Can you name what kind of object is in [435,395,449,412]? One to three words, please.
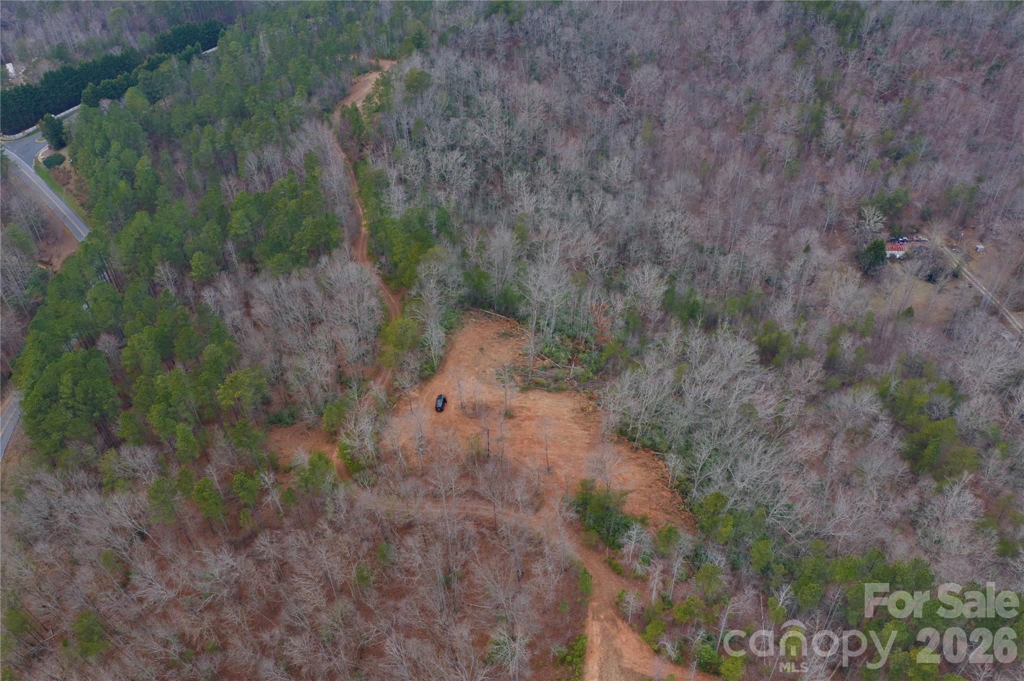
car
